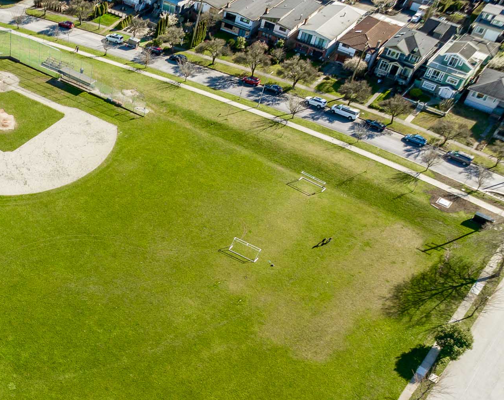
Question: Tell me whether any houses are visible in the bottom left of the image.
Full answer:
No, in the bottom left of the image there is no house.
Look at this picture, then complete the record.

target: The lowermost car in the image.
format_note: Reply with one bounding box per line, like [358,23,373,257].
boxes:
[445,152,473,166]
